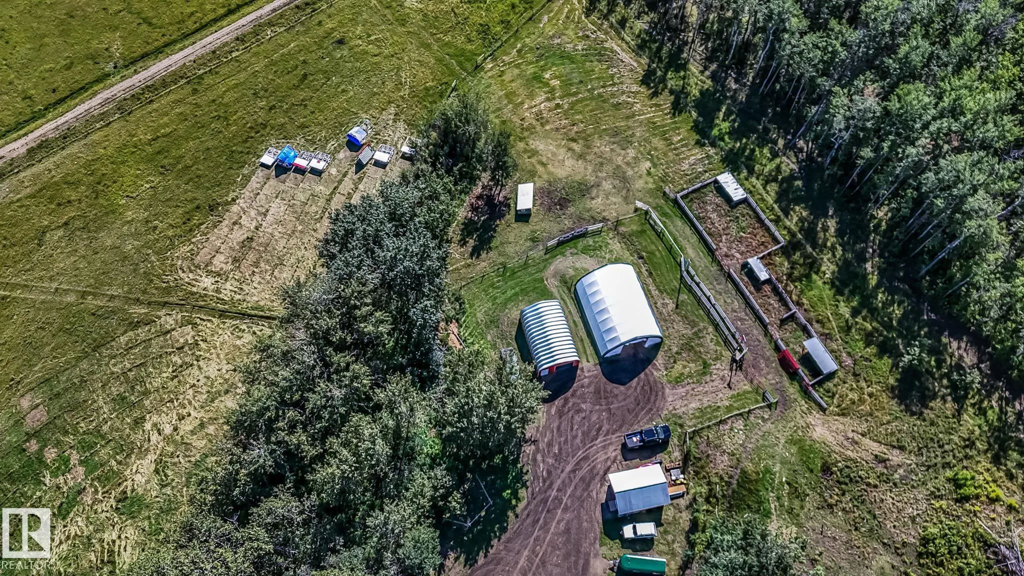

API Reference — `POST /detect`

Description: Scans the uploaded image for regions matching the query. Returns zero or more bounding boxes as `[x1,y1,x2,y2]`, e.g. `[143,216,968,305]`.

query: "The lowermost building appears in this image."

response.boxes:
[604,463,671,516]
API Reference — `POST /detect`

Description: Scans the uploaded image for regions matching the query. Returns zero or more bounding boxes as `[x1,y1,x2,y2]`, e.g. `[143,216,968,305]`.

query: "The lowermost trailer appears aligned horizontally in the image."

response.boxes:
[606,554,671,576]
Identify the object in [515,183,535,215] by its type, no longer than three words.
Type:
shed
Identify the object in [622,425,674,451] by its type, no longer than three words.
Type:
truck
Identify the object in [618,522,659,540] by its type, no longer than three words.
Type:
car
